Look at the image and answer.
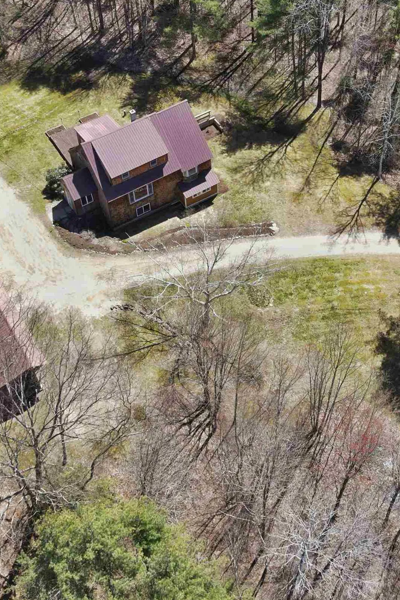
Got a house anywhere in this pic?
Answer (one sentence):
Yes, a house appears in the view.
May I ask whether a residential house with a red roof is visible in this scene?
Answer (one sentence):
No, the frame has no residential house with a red roof in it.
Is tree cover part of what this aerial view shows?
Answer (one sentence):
Yes, there is tree cover in the image.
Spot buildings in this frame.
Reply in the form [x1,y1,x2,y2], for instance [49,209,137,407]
[46,98,220,229]
[0,288,49,415]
